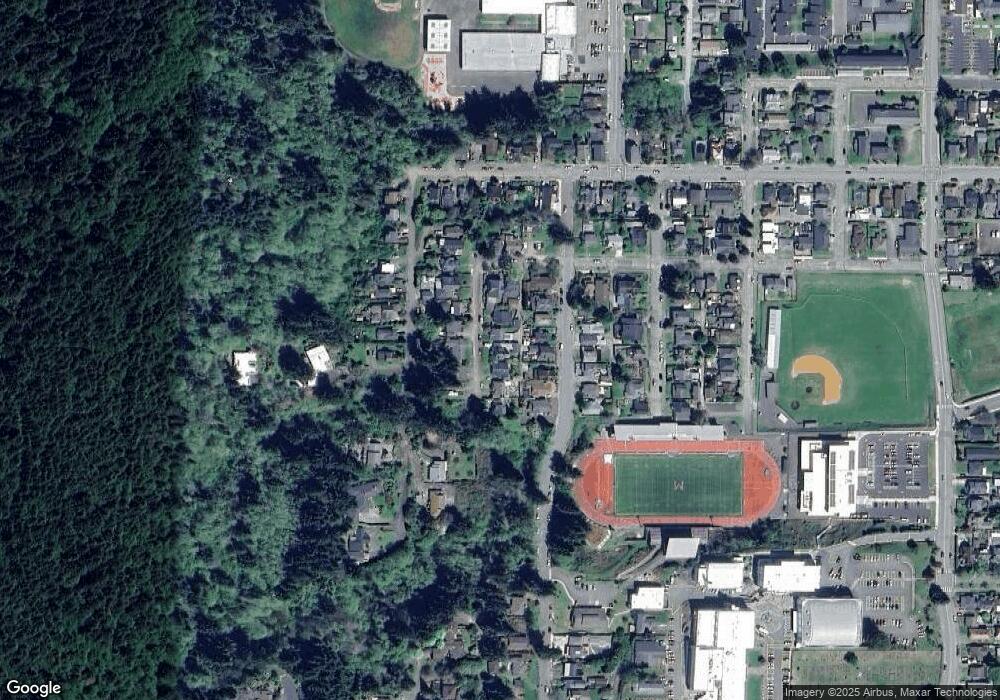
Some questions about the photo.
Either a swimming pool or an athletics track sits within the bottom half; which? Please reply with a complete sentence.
The feature located within the bottom half is an athletics track.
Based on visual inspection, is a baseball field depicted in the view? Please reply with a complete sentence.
Yes, this view includes a baseball field.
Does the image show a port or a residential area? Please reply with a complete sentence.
It's a residential area.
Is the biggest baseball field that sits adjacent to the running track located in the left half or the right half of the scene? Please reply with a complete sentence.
You can find the biggest baseball field that sits adjacent to the running track on the right side of the picture.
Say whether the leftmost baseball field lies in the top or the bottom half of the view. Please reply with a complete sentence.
Seen from above, the leftmost baseball field lies in the top half of the view.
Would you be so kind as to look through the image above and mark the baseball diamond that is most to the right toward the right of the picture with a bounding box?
[758,272,936,430]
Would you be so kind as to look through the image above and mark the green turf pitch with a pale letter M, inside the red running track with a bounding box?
[614,450,744,517]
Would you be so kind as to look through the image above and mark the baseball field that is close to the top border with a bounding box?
[323,0,423,67]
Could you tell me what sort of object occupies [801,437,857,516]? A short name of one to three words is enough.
building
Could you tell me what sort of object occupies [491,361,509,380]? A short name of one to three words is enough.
house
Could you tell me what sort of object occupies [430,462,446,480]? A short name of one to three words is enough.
house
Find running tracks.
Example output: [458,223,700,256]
[575,438,781,528]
